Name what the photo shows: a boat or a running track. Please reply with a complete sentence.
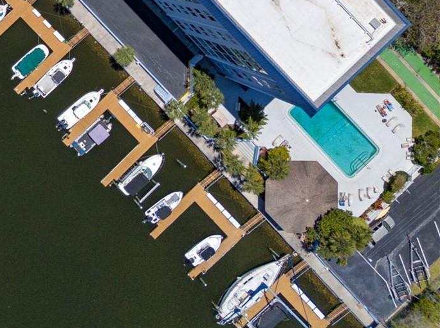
The one in the frame is a boat.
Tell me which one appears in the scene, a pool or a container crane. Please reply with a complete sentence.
It is a pool that can be seen here.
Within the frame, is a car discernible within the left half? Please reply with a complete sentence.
No, no car can be made out within the left half.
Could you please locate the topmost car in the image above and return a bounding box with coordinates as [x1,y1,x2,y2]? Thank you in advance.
[368,213,399,246]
